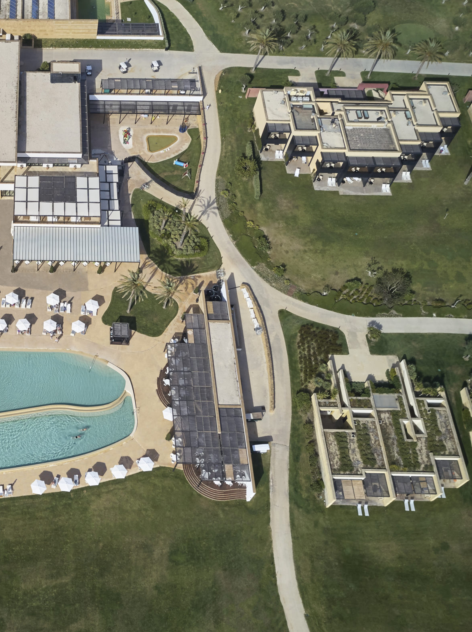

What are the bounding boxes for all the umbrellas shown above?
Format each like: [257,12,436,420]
[4,292,18,306]
[58,478,75,493]
[138,457,155,473]
[43,320,57,333]
[85,471,102,487]
[71,320,85,334]
[110,464,128,479]
[0,319,7,332]
[162,406,177,422]
[46,293,59,307]
[30,480,47,496]
[85,299,99,313]
[15,318,30,331]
